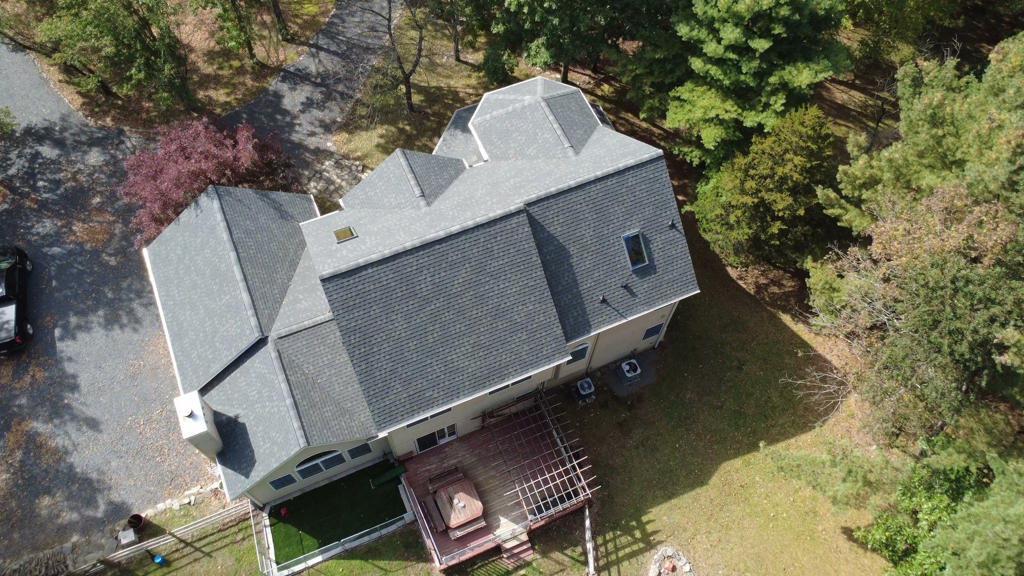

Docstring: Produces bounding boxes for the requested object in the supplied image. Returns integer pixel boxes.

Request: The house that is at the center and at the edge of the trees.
[141,75,700,511]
